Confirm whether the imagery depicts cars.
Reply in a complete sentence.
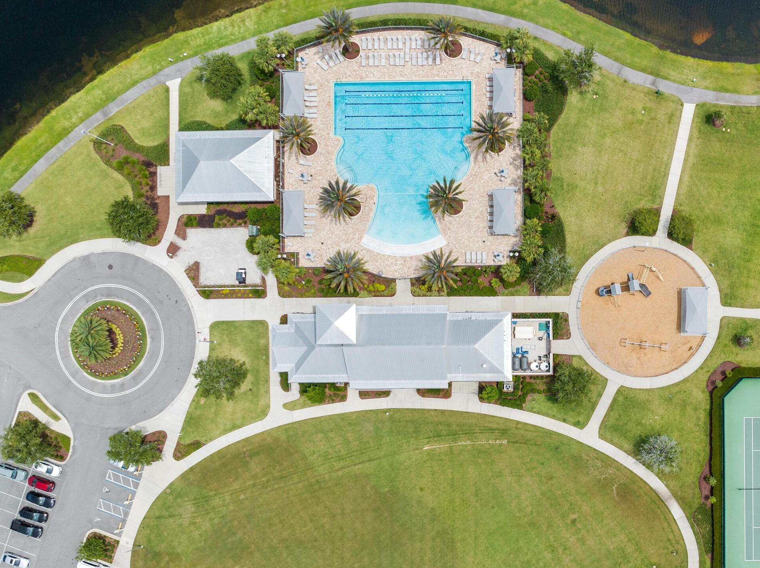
Yes, a car is visible in the scene.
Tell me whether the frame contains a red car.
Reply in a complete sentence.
Yes, a red car appears in the view.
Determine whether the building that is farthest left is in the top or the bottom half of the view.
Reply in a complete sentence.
The top half of the photo is where the building that is farthest left is.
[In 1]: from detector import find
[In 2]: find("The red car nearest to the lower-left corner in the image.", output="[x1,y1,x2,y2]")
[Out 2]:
[29,474,59,493]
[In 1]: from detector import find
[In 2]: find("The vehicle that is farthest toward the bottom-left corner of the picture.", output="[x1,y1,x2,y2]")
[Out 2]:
[0,551,34,568]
